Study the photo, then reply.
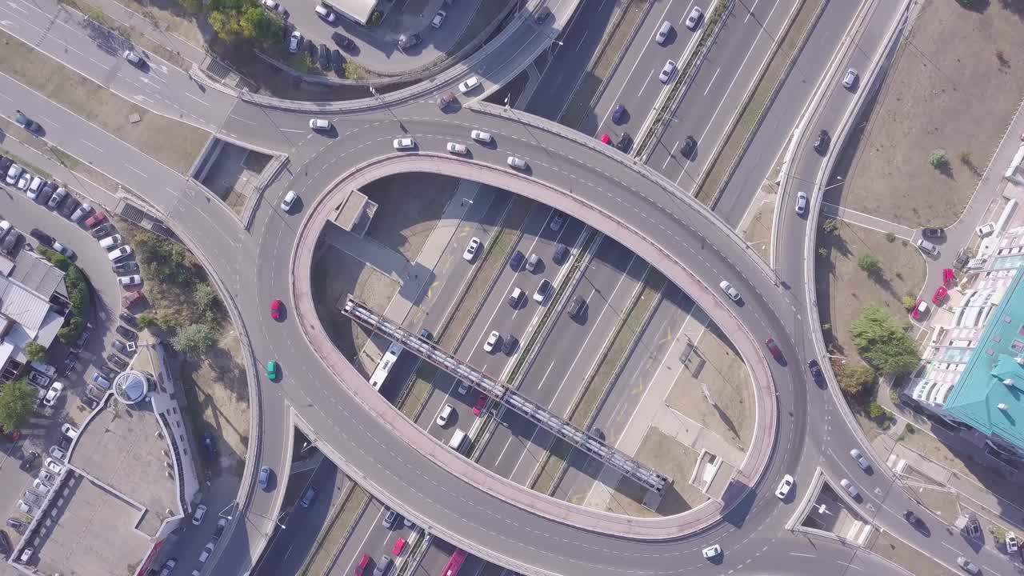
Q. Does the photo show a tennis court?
No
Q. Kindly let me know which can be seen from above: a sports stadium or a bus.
bus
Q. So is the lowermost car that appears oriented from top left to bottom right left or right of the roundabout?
to its right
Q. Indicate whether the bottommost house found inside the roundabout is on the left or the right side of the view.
right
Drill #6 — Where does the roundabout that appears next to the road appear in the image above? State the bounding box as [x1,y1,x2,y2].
[251,97,818,576]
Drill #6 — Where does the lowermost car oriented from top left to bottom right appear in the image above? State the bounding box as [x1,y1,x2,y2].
[954,555,980,576]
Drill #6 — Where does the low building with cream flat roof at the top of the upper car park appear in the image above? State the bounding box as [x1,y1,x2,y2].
[322,0,388,34]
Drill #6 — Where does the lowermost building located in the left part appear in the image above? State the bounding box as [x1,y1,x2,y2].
[0,392,209,576]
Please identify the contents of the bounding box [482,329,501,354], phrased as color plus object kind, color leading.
white car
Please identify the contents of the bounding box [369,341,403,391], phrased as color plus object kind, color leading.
white bus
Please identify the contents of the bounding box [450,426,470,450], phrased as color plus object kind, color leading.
white vehicle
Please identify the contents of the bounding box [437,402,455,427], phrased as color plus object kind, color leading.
white car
